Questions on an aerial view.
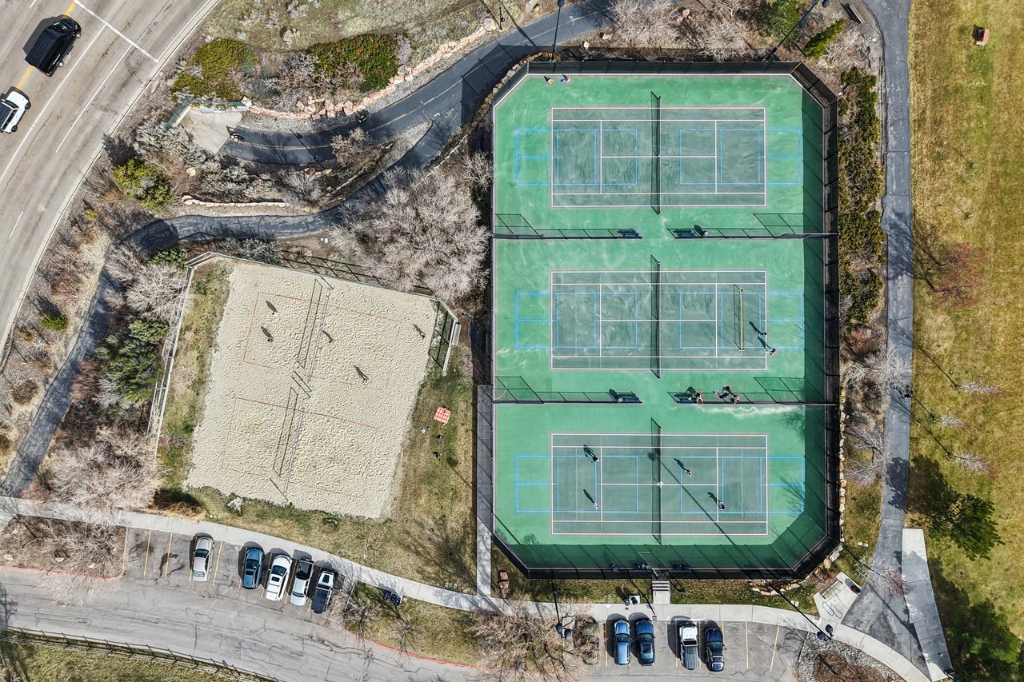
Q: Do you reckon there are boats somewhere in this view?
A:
No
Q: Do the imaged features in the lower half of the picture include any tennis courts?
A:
Yes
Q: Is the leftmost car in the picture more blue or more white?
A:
white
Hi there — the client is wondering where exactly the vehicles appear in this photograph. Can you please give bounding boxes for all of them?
[306,571,336,620]
[0,89,28,131]
[287,558,314,608]
[238,550,262,593]
[262,556,292,604]
[703,627,725,673]
[678,624,701,676]
[187,538,212,584]
[636,621,657,668]
[32,17,79,68]
[614,623,633,667]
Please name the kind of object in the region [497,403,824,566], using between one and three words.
tennis court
